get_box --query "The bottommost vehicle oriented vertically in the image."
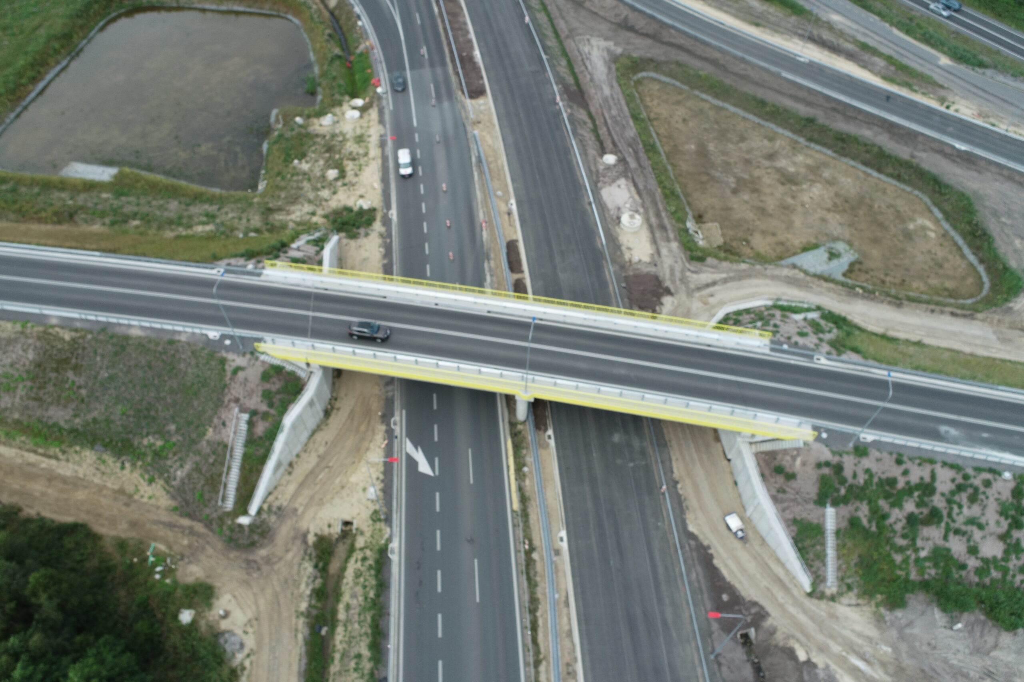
[398,148,413,178]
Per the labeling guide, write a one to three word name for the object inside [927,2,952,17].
car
